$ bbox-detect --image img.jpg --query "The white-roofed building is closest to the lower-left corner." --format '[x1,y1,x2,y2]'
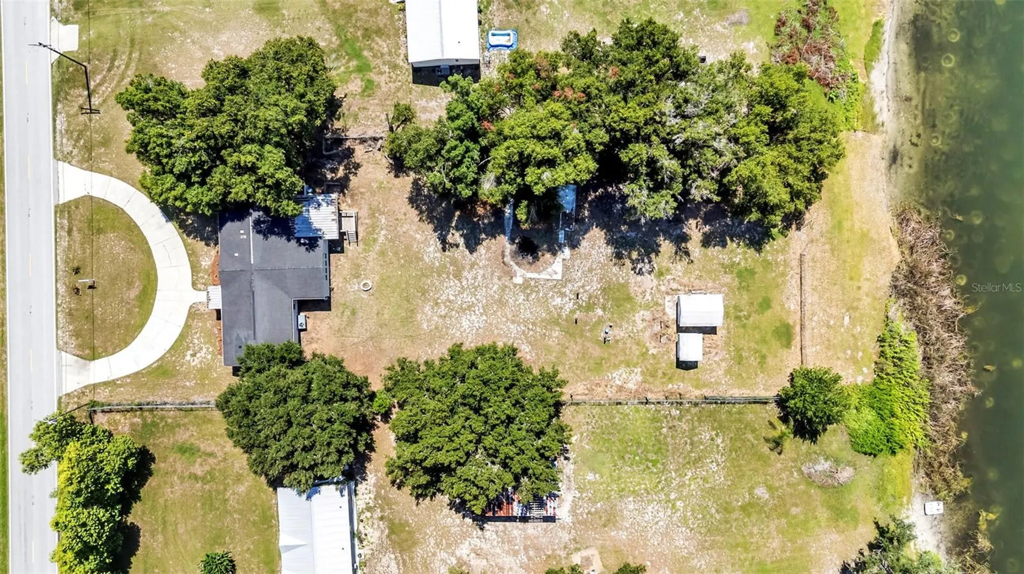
[278,476,356,574]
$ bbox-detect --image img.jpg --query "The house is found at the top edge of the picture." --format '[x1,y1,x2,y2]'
[408,0,479,68]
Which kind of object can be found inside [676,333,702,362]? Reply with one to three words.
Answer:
shed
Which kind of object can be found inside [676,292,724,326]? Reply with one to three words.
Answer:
shed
